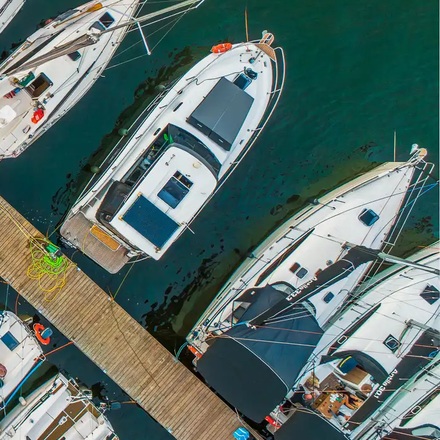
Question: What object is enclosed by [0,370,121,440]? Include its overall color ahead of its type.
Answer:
white boat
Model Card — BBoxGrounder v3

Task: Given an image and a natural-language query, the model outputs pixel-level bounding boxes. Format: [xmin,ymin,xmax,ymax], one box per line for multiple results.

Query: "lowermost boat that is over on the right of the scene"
[356,358,440,440]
